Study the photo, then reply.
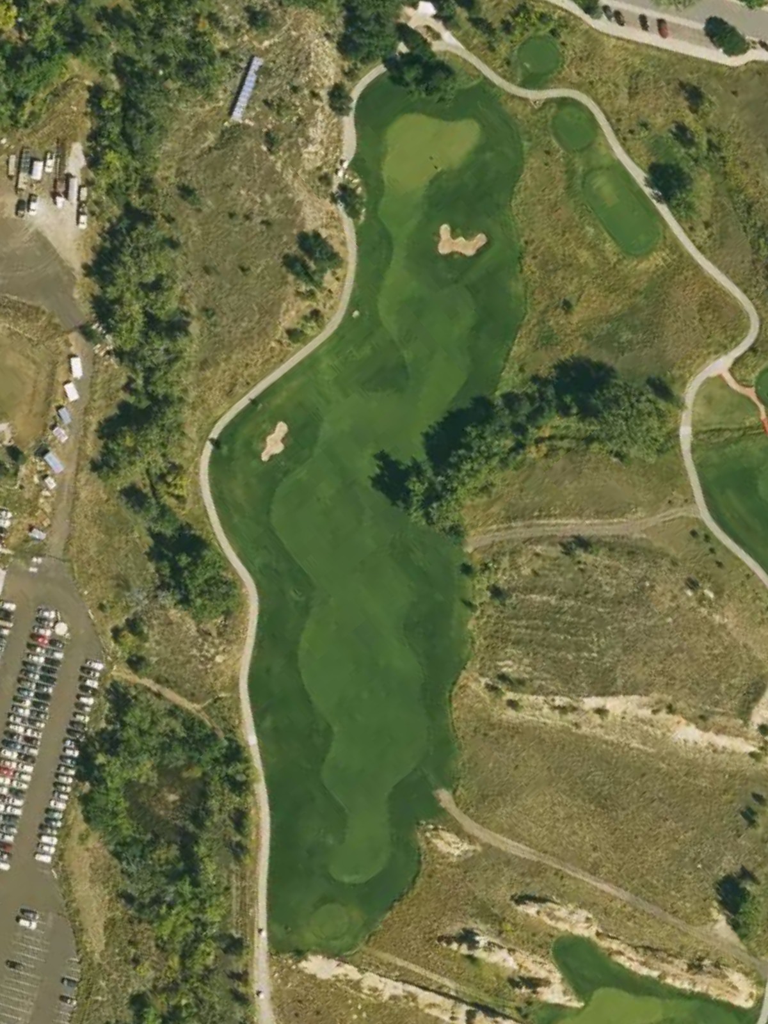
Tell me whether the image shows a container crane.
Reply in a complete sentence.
No, there appears to be no container crane in this shot.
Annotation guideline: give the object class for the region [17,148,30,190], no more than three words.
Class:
vehicle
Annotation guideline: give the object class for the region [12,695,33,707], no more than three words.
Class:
vehicle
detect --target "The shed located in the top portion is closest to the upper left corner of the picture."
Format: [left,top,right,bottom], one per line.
[231,55,265,121]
